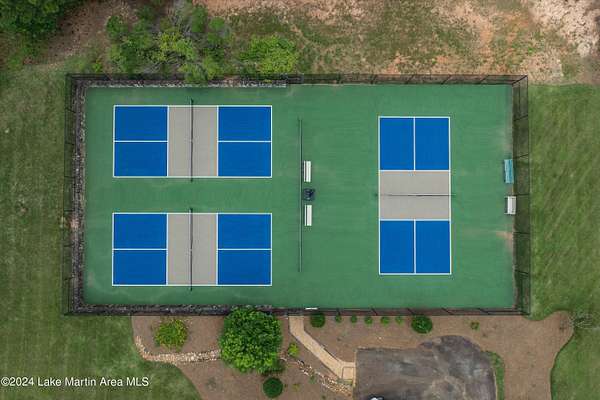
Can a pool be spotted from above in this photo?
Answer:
No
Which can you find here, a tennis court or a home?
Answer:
tennis court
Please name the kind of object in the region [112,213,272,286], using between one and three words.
sports court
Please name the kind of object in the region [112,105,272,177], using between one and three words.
sports court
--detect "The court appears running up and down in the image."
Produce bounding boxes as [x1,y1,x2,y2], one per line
[379,116,452,275]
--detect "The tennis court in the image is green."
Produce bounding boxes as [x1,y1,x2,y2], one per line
[84,84,513,307]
